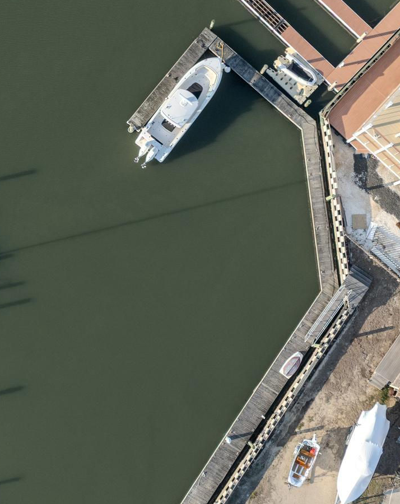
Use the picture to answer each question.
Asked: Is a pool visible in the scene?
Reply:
No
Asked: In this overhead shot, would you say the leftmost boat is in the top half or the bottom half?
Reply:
top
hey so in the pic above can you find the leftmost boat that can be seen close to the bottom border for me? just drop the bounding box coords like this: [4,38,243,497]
[291,439,322,494]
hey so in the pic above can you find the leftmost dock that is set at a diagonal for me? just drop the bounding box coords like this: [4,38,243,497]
[127,28,217,132]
